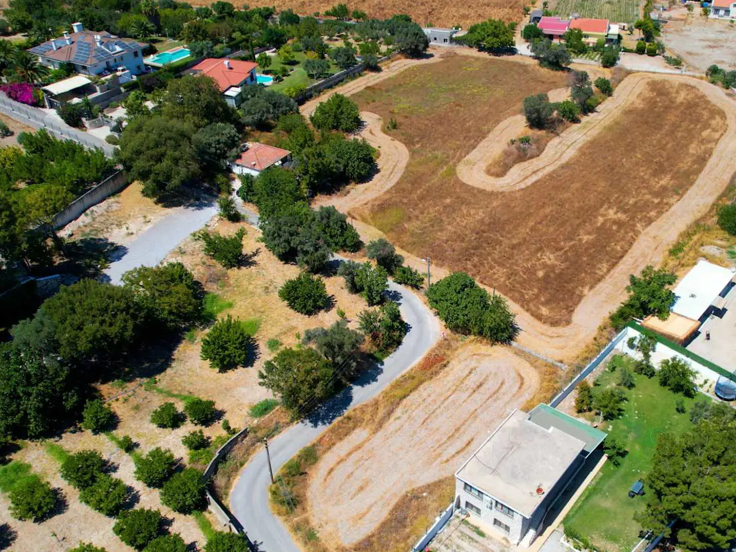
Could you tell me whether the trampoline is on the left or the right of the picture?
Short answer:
right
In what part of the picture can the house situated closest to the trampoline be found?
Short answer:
right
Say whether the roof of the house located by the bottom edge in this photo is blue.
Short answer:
No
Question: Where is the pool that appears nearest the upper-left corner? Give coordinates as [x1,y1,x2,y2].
[149,47,192,68]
